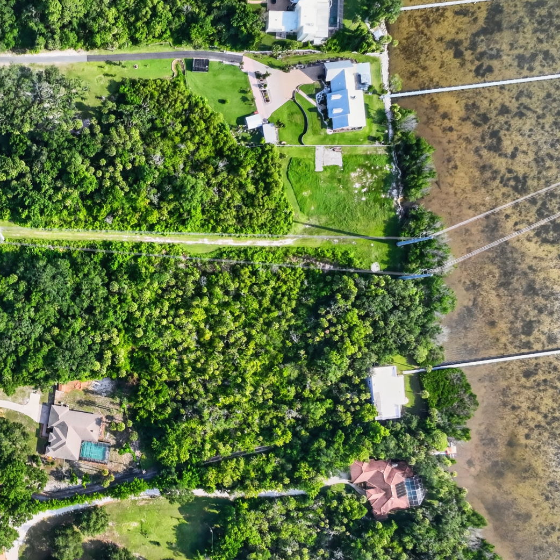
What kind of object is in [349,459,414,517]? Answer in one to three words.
house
